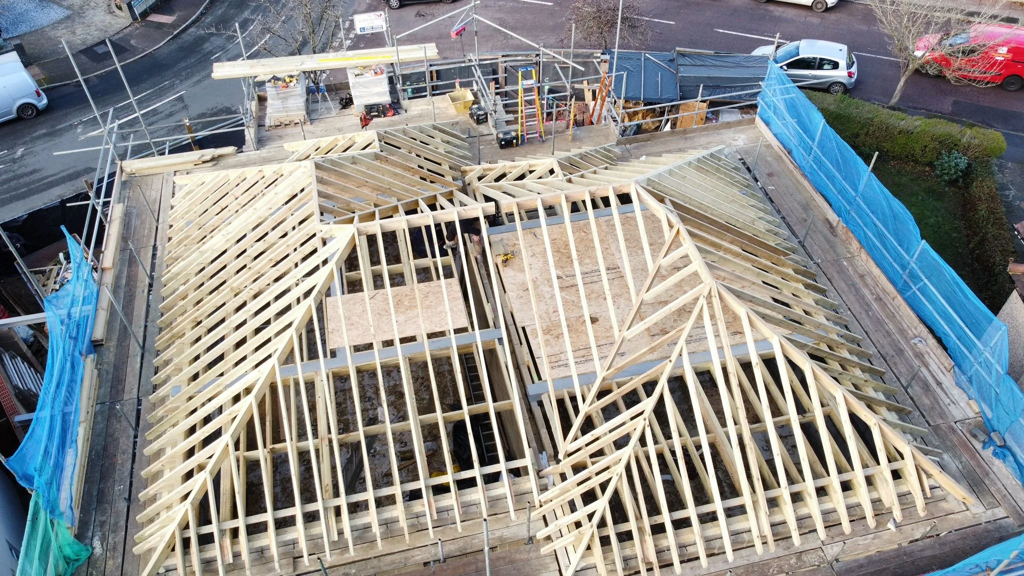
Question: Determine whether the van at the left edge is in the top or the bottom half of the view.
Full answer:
Seen from above, the van at the left edge lies in the top half of the view.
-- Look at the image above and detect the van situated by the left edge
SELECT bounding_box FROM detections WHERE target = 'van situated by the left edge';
[0,50,49,120]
